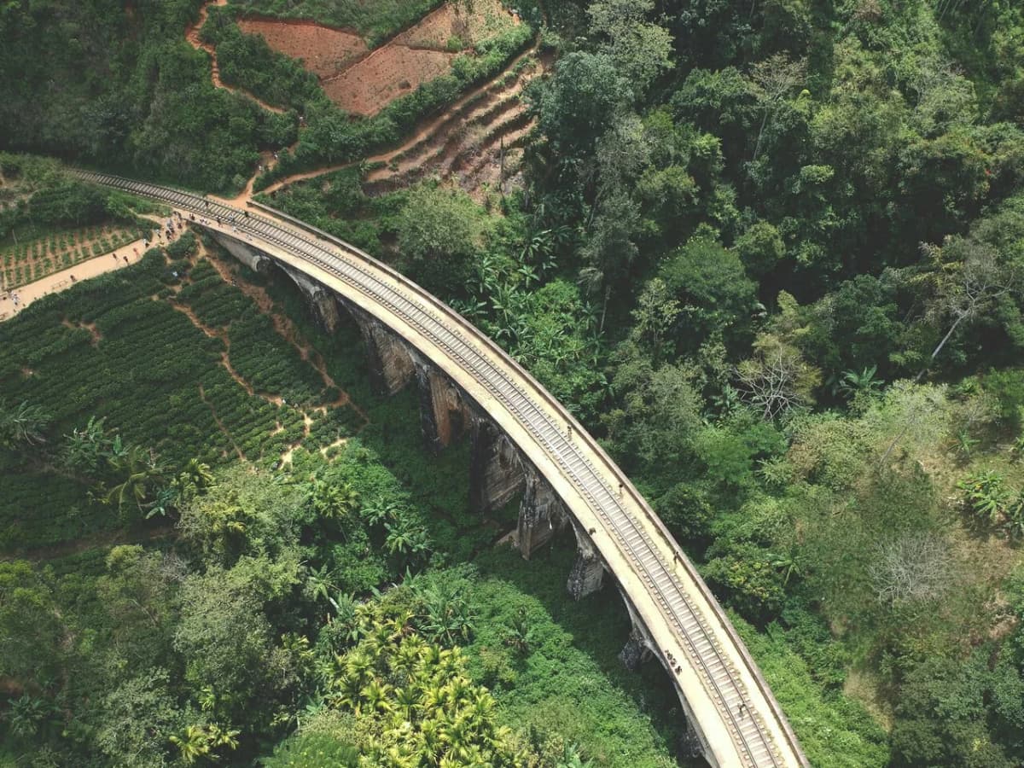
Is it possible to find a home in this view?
No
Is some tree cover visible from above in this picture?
Yes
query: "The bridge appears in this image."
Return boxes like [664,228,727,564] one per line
[156,187,813,768]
